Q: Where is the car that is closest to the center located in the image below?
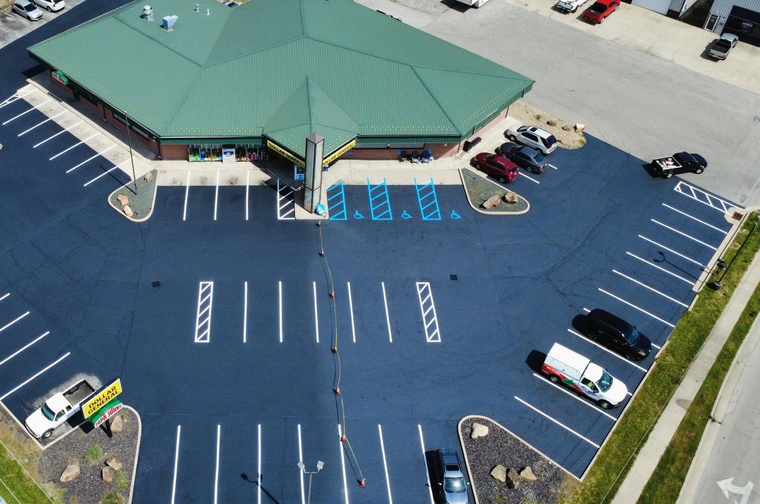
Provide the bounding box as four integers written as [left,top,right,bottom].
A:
[467,152,524,186]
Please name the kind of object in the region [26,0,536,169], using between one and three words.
building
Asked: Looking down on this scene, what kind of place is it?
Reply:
parking lot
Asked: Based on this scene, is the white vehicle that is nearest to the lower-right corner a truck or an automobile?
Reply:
truck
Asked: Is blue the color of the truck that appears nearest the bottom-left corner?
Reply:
No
